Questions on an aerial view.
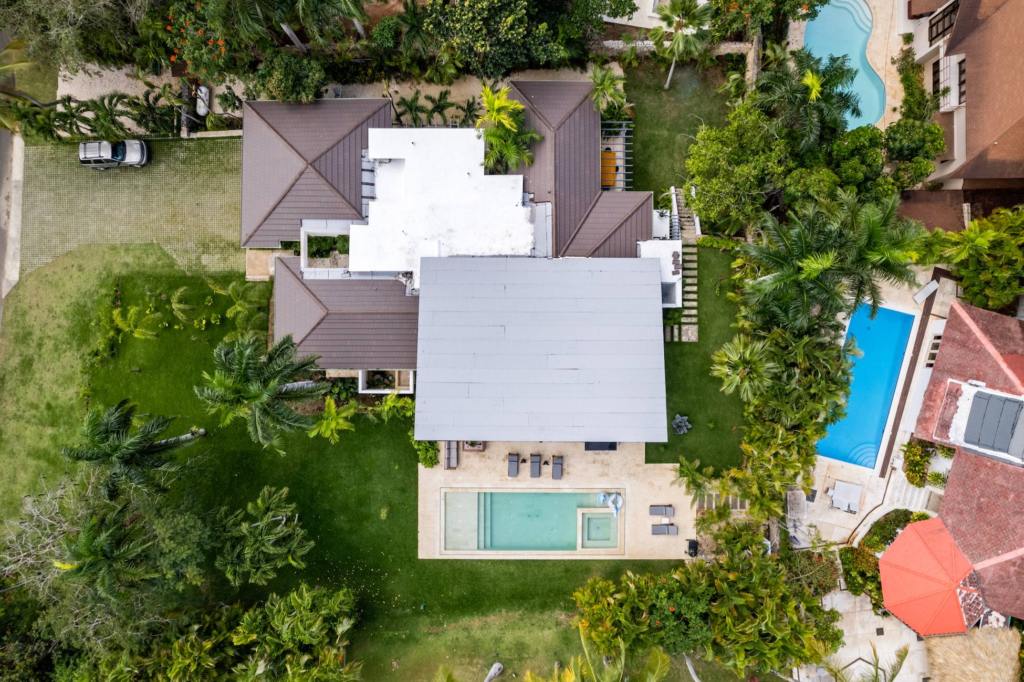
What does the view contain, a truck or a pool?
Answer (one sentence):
There is a pool in the scene.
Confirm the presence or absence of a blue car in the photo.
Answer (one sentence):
No, there's no blue car here.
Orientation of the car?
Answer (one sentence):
In this picture, the car is oriented horizontally.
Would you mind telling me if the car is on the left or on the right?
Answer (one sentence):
The car is on the left side of the image.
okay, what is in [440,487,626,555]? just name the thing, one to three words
swimming pool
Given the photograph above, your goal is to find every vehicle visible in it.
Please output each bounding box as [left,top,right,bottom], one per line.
[78,136,150,171]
